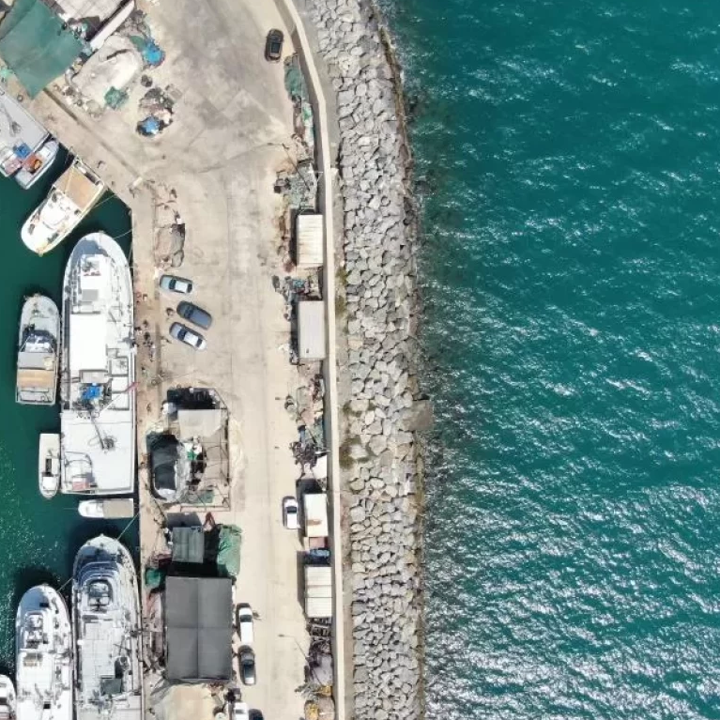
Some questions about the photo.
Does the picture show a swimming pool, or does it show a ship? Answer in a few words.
ship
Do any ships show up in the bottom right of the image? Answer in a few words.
No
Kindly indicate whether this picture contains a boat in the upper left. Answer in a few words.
Yes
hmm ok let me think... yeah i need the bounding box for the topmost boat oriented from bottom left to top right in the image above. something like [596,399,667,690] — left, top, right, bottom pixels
[14,137,57,189]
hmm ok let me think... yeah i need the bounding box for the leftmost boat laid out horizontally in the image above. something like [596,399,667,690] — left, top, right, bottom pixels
[77,498,134,519]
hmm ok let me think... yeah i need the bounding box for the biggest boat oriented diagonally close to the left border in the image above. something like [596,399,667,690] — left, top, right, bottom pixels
[22,161,106,253]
